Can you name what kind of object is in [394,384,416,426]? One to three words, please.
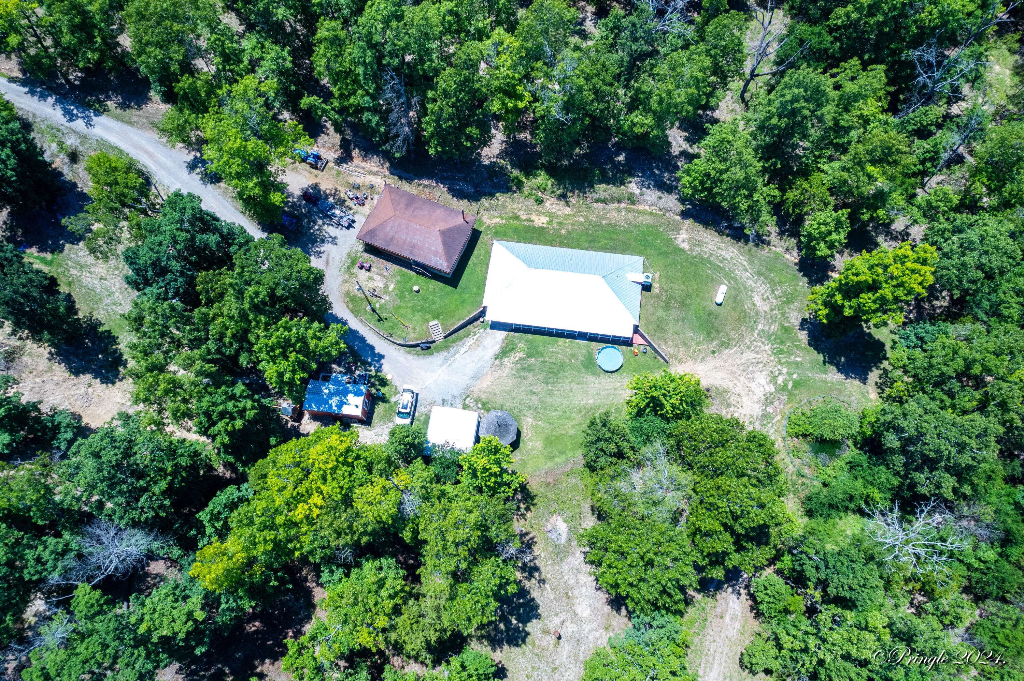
car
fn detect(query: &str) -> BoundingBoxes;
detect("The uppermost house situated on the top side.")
[356,184,477,290]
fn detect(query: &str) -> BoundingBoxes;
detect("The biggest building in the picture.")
[482,240,648,347]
